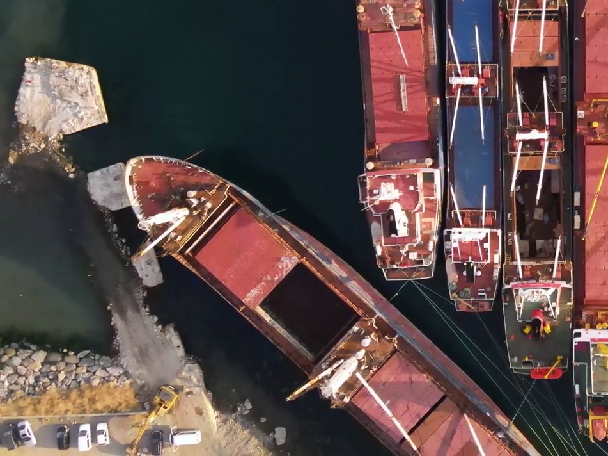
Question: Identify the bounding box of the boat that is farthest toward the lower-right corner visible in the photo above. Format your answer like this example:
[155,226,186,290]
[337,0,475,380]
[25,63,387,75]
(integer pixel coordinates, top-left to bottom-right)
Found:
[594,419,608,442]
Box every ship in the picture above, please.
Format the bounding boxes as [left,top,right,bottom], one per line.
[498,0,573,377]
[572,0,608,442]
[355,0,446,287]
[444,0,504,311]
[124,150,547,456]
